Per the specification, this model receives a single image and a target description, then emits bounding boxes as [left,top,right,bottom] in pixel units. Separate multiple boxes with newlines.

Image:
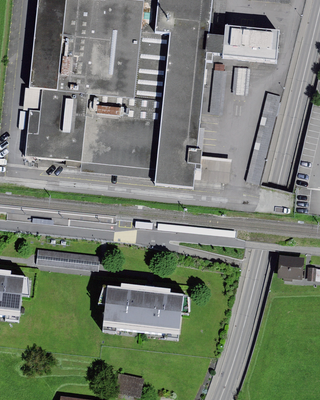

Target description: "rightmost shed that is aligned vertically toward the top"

[247,93,281,186]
